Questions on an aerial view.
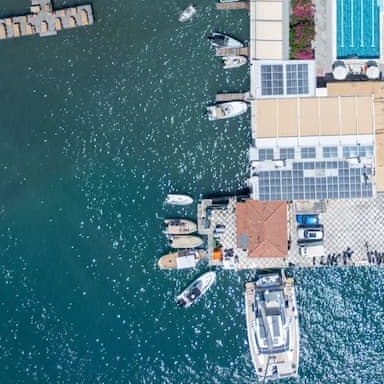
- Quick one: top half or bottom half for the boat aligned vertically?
bottom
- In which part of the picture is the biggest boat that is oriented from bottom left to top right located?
bottom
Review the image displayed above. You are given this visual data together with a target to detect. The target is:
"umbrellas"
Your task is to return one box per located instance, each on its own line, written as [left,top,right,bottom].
[364,64,380,78]
[332,64,348,79]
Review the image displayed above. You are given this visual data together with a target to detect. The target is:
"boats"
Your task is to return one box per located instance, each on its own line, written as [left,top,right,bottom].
[165,235,201,247]
[179,3,197,19]
[244,257,299,384]
[161,193,193,204]
[203,102,247,119]
[204,28,243,47]
[173,272,215,308]
[218,55,248,68]
[159,249,203,271]
[159,219,196,235]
